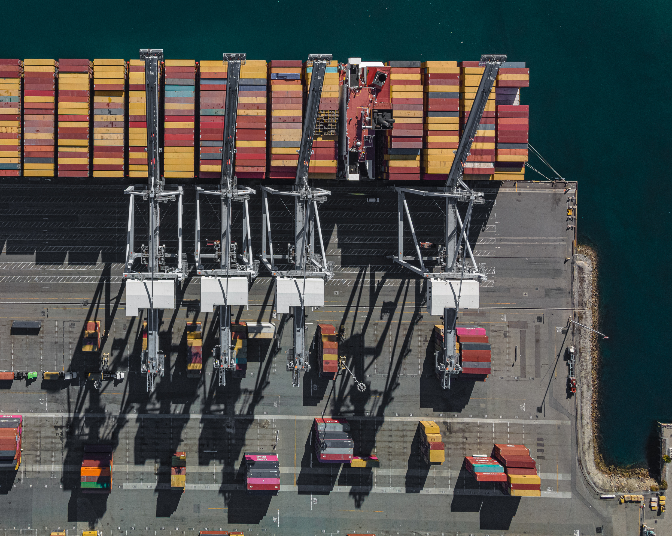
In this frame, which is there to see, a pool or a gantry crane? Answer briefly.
gantry crane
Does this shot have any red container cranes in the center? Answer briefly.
No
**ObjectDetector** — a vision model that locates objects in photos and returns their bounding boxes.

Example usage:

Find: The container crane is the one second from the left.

[186,51,265,389]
